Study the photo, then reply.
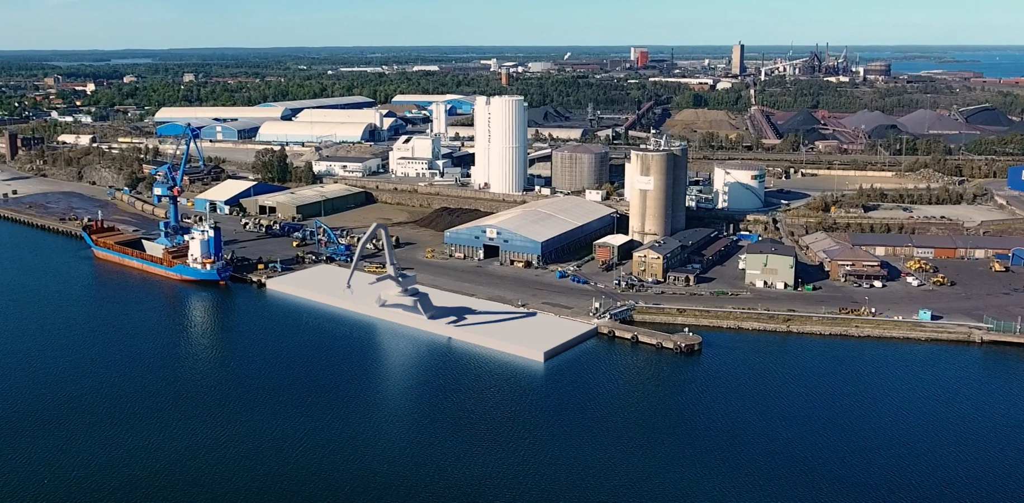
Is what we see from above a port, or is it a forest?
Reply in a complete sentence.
The area seen from above is a port.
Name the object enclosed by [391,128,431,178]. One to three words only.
building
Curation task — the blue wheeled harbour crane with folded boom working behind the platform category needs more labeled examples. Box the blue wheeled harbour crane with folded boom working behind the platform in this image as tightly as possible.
[314,219,354,263]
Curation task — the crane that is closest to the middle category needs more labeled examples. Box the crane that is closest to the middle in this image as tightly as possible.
[344,221,443,319]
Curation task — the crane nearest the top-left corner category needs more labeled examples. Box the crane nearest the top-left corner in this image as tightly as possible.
[146,121,205,243]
